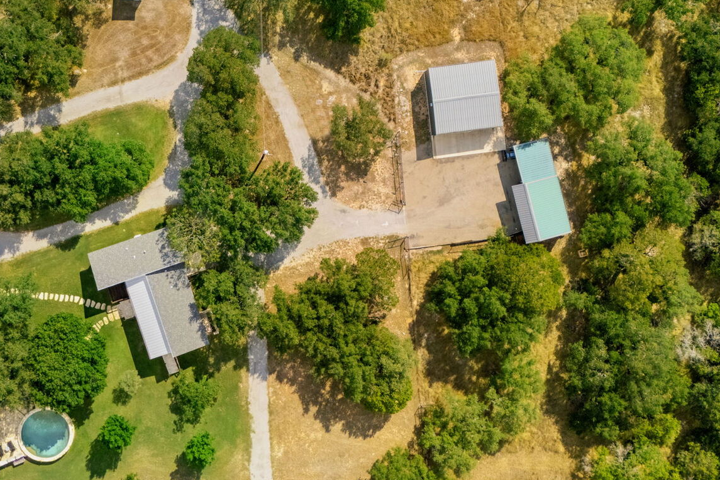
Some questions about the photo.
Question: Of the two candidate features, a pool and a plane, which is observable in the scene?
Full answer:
The image shows a pool.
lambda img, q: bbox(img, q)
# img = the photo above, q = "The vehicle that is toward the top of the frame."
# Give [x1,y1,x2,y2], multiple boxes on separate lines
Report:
[500,147,516,160]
